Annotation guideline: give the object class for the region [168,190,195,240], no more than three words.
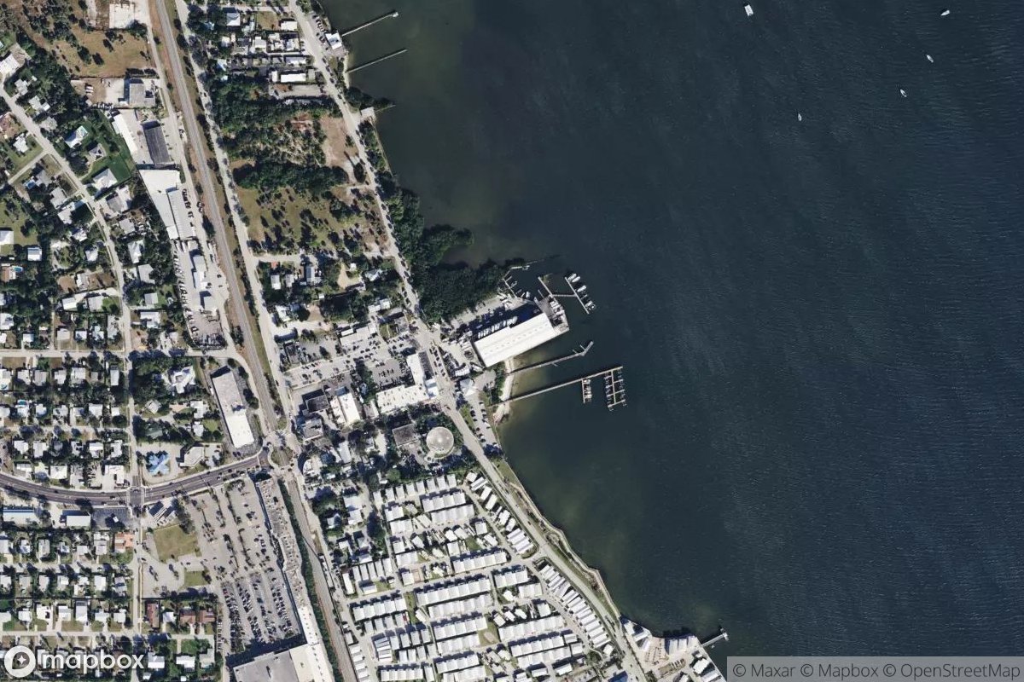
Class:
building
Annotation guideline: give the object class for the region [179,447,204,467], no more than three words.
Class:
building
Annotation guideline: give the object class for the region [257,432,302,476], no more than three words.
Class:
roundabout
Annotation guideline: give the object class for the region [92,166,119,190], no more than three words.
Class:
house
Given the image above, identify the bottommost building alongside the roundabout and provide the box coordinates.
[258,479,312,609]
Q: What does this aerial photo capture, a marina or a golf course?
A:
marina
